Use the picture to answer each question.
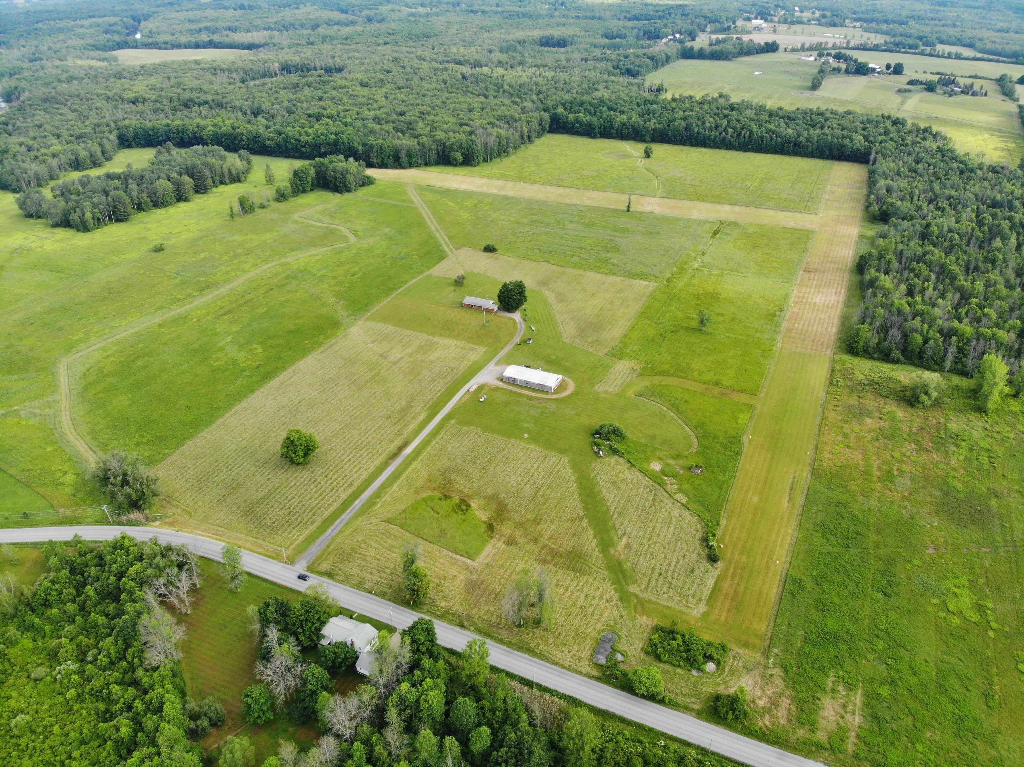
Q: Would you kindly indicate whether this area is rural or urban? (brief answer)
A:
rural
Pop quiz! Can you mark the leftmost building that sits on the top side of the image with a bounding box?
[462,295,499,312]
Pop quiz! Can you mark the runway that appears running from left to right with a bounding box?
[367,168,819,230]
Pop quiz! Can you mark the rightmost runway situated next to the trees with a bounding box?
[782,162,867,353]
